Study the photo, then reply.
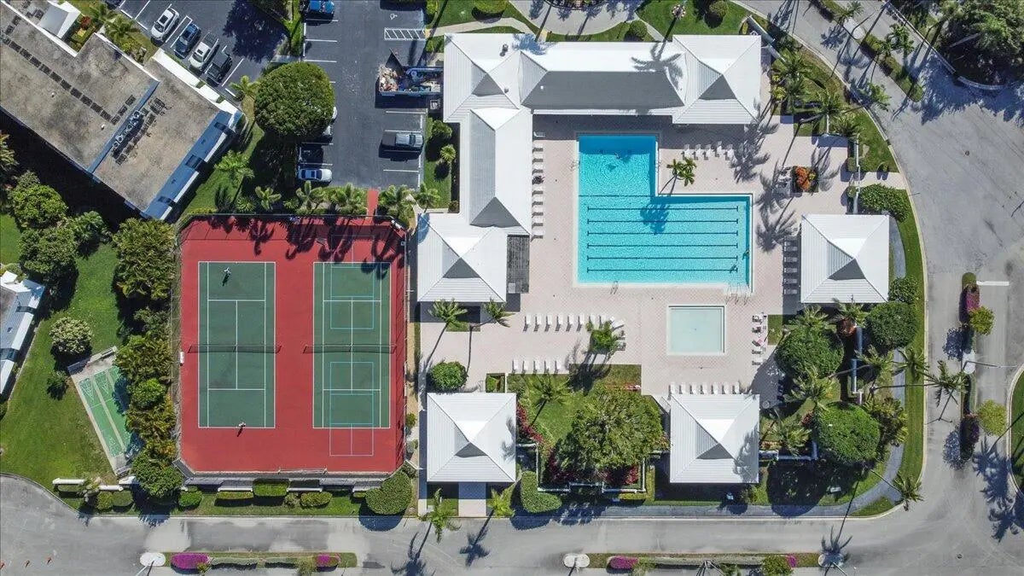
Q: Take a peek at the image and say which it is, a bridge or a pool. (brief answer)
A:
pool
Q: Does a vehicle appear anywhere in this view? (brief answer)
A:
Yes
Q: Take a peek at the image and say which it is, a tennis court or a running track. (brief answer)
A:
tennis court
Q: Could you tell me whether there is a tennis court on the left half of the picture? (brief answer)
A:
Yes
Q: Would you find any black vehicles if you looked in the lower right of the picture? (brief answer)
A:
No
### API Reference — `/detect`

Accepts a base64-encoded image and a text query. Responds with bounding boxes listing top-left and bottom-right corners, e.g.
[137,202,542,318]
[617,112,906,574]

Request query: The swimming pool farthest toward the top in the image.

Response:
[573,132,755,295]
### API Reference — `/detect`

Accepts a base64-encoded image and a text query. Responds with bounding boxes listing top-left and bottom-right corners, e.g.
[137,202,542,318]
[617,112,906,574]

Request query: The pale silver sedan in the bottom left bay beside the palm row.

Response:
[298,167,333,183]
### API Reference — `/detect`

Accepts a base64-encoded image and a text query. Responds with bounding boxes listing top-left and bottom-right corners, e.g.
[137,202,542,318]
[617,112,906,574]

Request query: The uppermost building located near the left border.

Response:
[0,0,245,220]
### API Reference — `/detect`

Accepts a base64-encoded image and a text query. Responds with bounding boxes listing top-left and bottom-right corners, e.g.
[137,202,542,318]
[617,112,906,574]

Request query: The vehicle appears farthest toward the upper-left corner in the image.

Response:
[153,8,182,41]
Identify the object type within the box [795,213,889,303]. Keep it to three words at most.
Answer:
building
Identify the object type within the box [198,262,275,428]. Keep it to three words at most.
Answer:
tennis court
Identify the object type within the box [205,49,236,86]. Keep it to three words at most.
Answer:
truck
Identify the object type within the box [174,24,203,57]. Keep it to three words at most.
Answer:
car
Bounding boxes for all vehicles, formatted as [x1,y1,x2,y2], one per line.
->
[301,0,335,15]
[298,167,333,183]
[205,49,236,86]
[190,35,219,69]
[381,133,424,150]
[317,124,331,138]
[174,24,203,57]
[153,8,182,41]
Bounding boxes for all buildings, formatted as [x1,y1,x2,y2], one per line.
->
[417,33,762,302]
[427,393,516,482]
[670,393,759,483]
[795,213,889,303]
[0,266,47,392]
[0,0,245,220]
